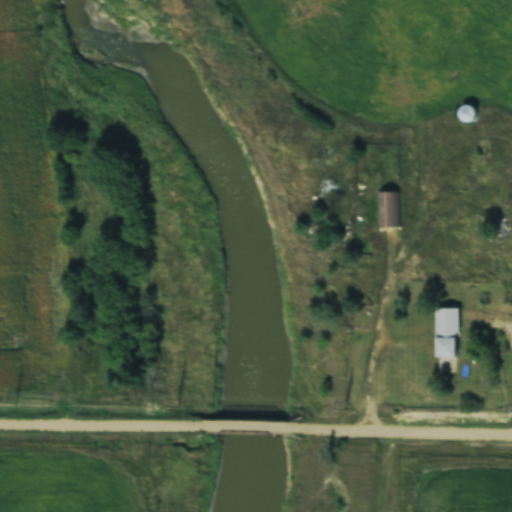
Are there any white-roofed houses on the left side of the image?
No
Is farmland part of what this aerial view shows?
Yes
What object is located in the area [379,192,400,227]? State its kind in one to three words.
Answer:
barn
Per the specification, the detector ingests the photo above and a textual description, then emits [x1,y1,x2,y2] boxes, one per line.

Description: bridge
[203,419,290,436]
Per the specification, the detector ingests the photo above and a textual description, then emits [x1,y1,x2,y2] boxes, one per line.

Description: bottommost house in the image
[434,308,460,358]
